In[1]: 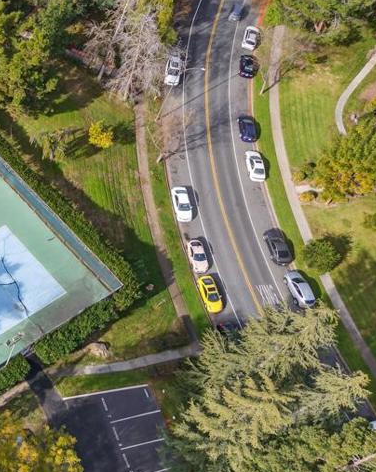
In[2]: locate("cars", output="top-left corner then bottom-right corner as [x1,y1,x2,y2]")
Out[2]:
[243,150,267,182]
[212,313,247,356]
[194,274,223,315]
[237,113,259,145]
[282,270,318,309]
[169,186,193,221]
[164,54,182,85]
[184,237,211,275]
[226,1,248,24]
[263,229,294,266]
[239,52,258,81]
[240,25,260,51]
